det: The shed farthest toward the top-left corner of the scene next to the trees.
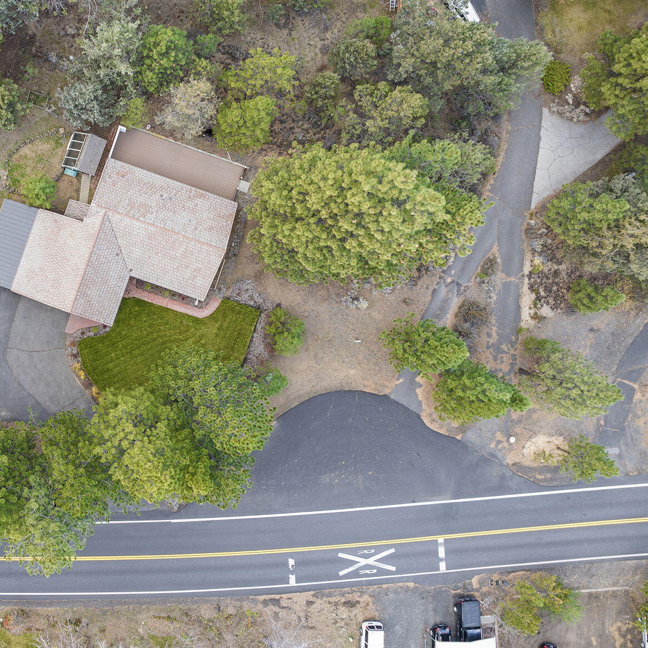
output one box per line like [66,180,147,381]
[61,131,106,180]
